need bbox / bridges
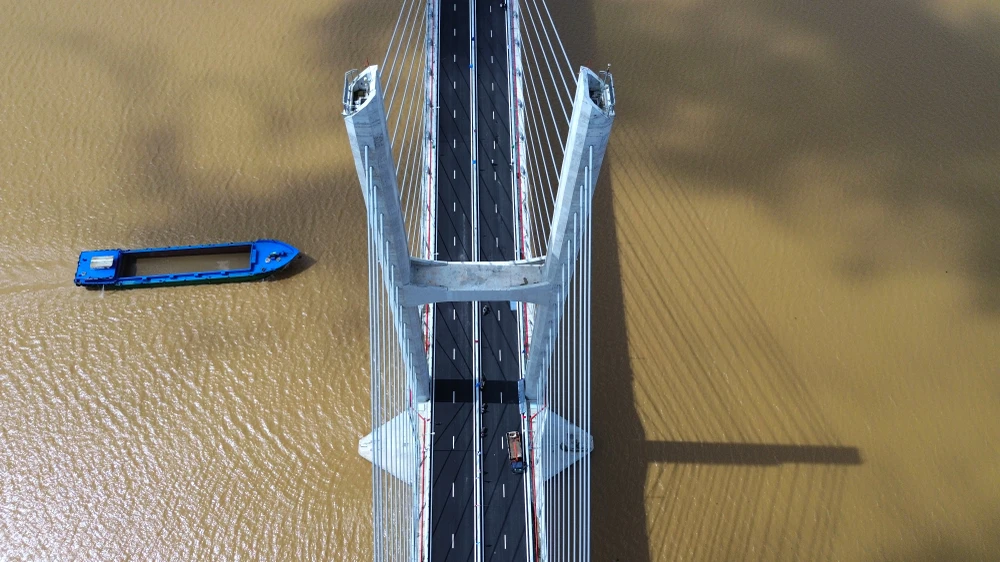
[343,0,611,562]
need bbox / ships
[70,239,299,300]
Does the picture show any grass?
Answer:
No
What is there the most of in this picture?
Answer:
water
